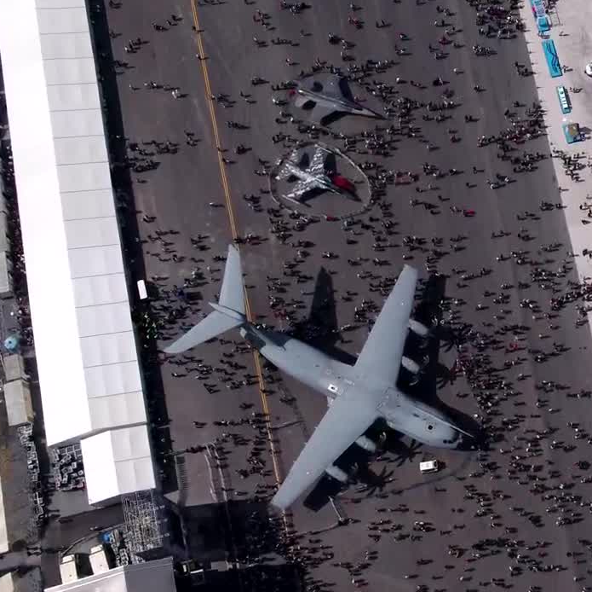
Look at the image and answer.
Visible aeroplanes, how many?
3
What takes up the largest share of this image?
paved ground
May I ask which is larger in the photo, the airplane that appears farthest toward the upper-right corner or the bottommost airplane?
the bottommost airplane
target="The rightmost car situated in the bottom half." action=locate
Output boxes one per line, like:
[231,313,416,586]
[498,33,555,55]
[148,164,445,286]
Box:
[420,459,440,474]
